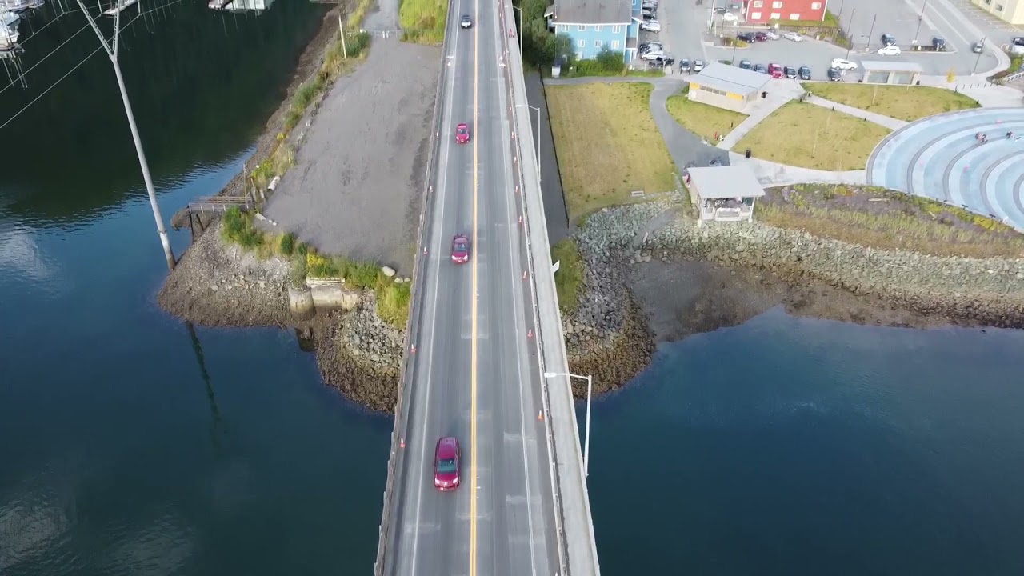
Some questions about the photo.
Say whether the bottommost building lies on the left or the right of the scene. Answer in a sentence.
You can find the bottommost building on the right side of the picture.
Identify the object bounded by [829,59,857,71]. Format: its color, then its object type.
white vehicle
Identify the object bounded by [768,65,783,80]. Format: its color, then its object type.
pink vehicle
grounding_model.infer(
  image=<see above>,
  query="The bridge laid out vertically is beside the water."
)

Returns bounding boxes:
[371,0,602,576]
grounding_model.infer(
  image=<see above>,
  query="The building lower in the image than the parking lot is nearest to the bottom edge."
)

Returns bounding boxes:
[687,161,766,220]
